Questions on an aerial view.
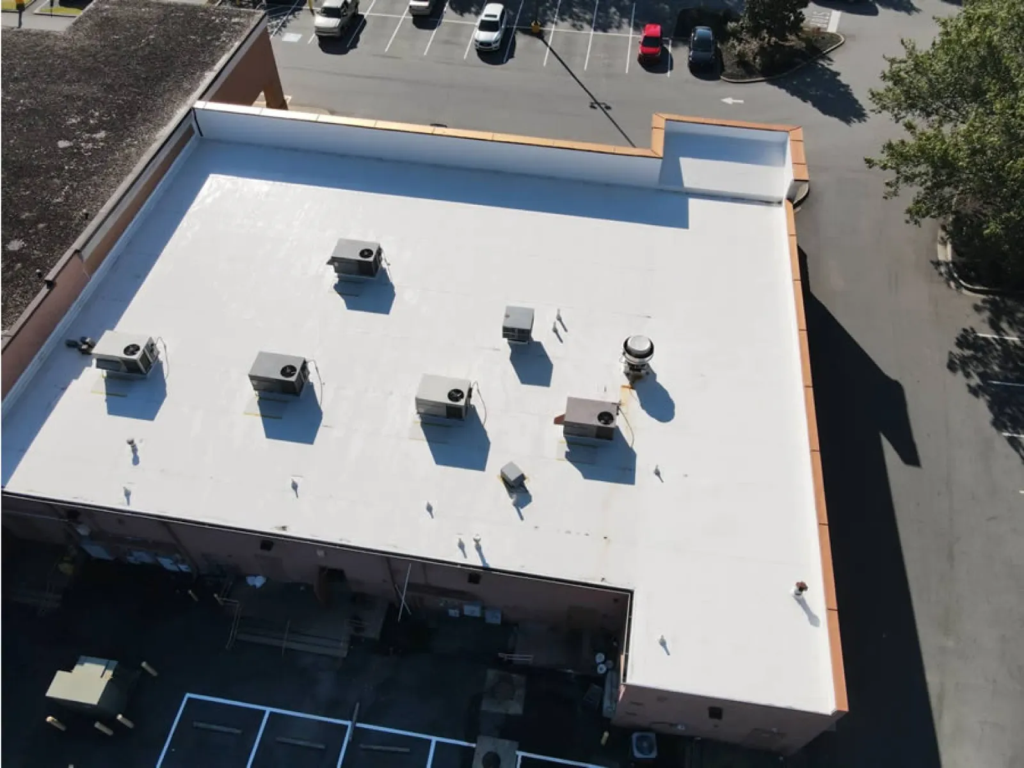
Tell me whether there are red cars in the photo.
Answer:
Yes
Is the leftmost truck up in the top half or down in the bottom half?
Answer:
top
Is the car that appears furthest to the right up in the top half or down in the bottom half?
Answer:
top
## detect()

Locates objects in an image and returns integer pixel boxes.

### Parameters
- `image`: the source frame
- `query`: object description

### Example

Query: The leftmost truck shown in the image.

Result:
[311,0,356,37]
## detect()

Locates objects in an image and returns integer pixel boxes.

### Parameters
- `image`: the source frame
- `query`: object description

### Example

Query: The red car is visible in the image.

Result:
[638,23,668,64]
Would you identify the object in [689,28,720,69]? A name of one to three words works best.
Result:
car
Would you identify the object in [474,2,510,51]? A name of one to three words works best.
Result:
car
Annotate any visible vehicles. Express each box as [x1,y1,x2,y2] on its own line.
[689,28,720,69]
[638,23,668,64]
[311,0,356,37]
[474,2,510,51]
[410,0,438,14]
